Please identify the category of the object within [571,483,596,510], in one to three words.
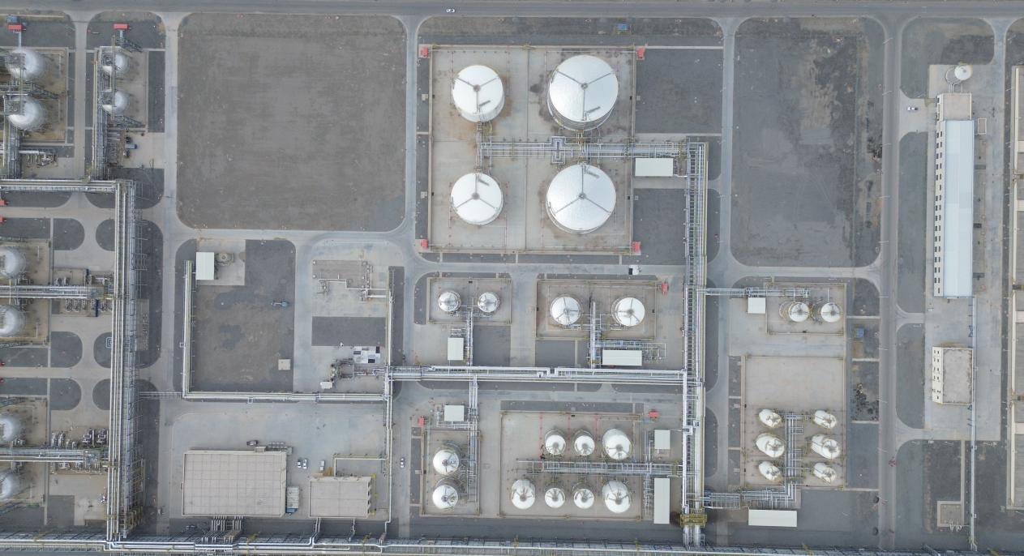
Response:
silo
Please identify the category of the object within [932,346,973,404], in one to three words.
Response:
building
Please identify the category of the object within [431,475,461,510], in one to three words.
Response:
storage tank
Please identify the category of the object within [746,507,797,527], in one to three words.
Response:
shed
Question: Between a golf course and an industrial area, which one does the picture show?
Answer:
industrial area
